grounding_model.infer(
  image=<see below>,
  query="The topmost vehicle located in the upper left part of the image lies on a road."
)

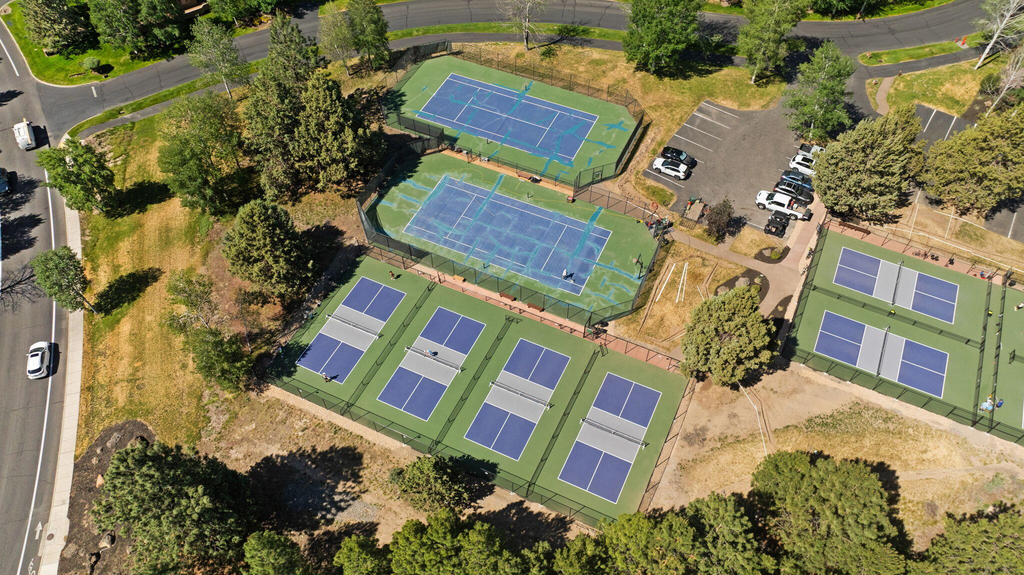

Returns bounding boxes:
[13,122,36,149]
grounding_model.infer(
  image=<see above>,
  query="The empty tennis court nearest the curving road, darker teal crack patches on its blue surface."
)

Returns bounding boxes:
[379,55,637,191]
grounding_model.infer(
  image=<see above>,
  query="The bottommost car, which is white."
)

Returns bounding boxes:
[24,340,50,379]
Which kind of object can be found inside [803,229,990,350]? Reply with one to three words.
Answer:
sports court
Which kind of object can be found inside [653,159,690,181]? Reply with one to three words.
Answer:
car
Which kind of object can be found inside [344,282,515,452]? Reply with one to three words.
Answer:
sports court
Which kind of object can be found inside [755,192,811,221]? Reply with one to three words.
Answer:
truck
